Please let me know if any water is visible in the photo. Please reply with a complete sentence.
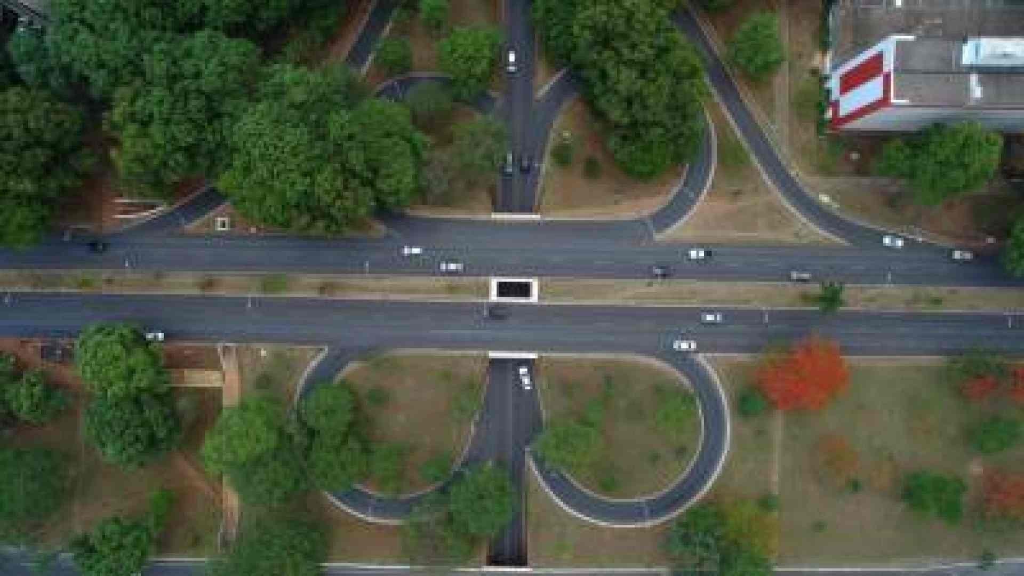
No, there's no water in this view.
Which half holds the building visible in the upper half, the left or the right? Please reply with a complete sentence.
The building visible in the upper half appears in the right half of the scene.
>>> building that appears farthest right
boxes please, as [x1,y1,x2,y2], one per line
[836,37,1024,130]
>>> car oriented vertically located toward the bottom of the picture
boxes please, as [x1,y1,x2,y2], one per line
[519,368,532,389]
